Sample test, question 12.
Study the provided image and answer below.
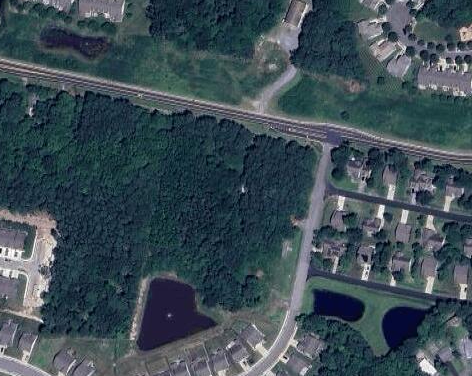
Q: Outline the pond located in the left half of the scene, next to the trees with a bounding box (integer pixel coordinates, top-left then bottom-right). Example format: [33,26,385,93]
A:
[138,277,216,350]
